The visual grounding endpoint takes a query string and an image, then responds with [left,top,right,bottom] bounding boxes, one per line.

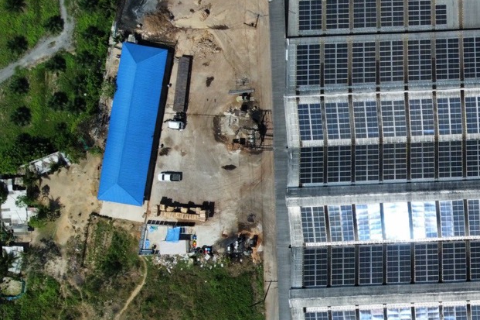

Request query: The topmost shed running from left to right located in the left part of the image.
[21,152,77,174]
